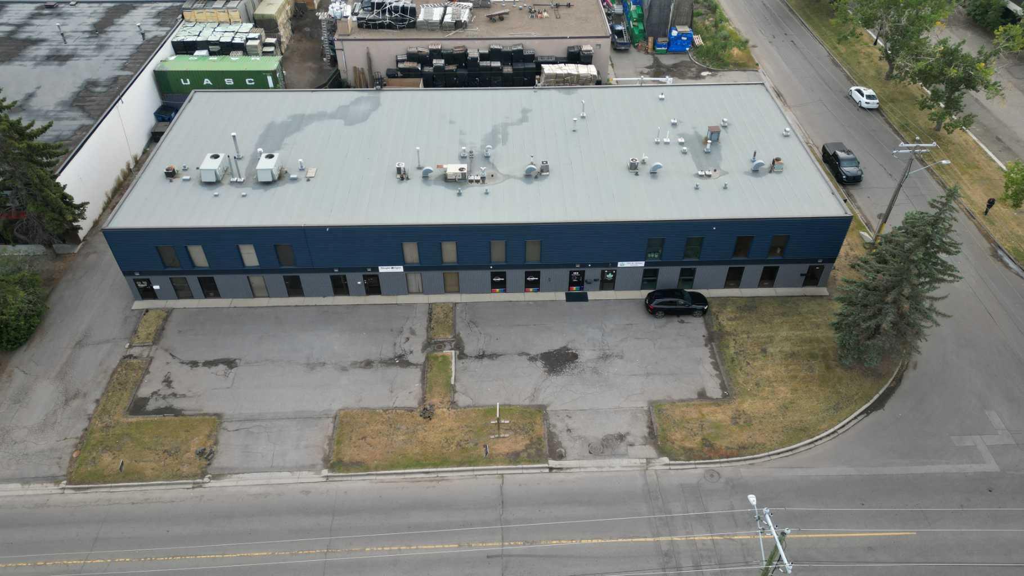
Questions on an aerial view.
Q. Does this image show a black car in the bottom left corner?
No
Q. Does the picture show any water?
No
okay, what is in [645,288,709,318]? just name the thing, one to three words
car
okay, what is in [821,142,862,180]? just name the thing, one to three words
truck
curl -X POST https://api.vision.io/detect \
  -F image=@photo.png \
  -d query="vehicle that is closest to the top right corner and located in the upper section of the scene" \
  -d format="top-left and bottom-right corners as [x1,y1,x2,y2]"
[848,86,878,106]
